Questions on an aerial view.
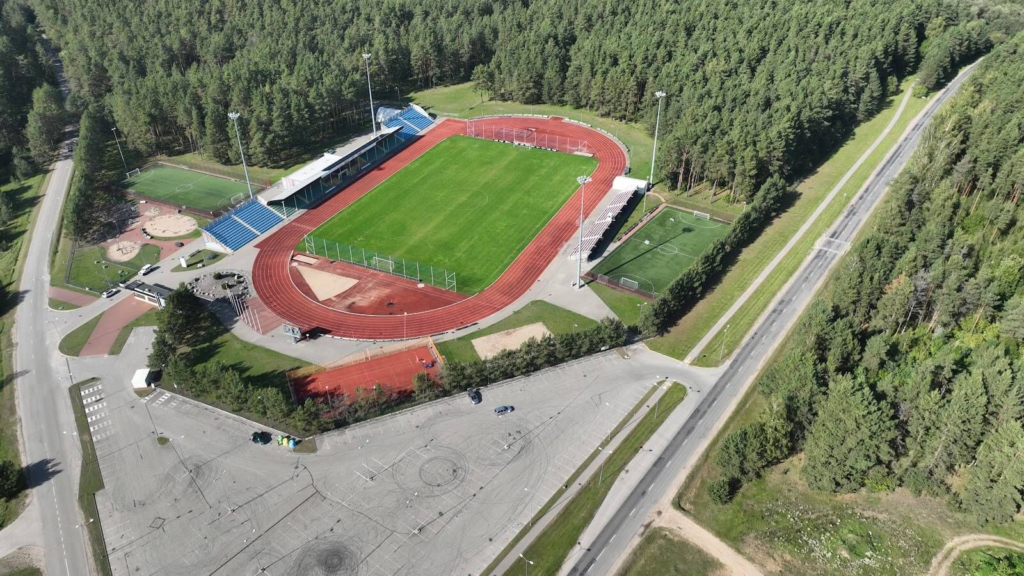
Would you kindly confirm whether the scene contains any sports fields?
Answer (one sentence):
Yes, the picture does show a sports field.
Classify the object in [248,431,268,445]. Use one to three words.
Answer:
car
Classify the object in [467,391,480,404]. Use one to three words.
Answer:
vehicle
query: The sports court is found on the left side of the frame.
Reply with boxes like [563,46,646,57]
[288,344,435,411]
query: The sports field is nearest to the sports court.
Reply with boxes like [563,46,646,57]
[293,133,600,297]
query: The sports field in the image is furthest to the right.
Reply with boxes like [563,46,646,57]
[593,208,723,292]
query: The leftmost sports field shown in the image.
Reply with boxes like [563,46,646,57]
[114,163,256,210]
